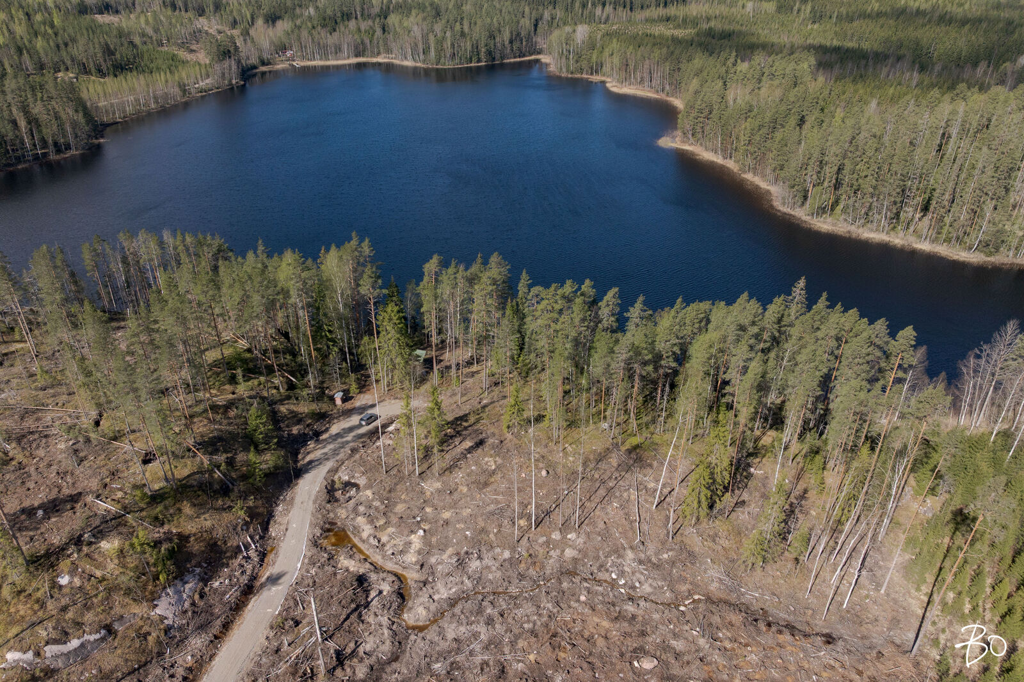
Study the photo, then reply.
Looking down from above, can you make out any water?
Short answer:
Yes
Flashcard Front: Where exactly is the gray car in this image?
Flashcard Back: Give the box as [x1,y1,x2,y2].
[358,414,381,428]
